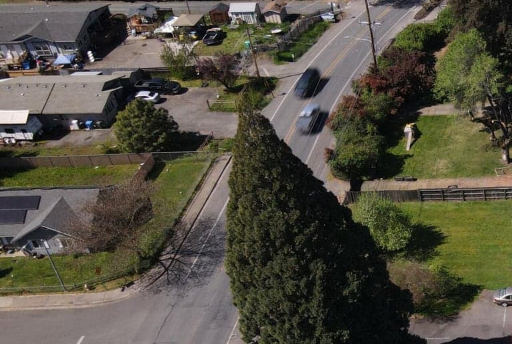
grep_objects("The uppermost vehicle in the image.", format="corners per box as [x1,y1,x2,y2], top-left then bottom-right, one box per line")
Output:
[196,28,226,46]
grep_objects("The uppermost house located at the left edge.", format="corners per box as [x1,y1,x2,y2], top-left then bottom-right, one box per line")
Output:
[0,9,133,64]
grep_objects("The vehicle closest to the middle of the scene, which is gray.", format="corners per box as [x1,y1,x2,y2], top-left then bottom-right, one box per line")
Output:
[297,103,324,126]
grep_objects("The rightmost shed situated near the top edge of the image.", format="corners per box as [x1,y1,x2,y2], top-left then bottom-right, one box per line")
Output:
[258,0,289,24]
